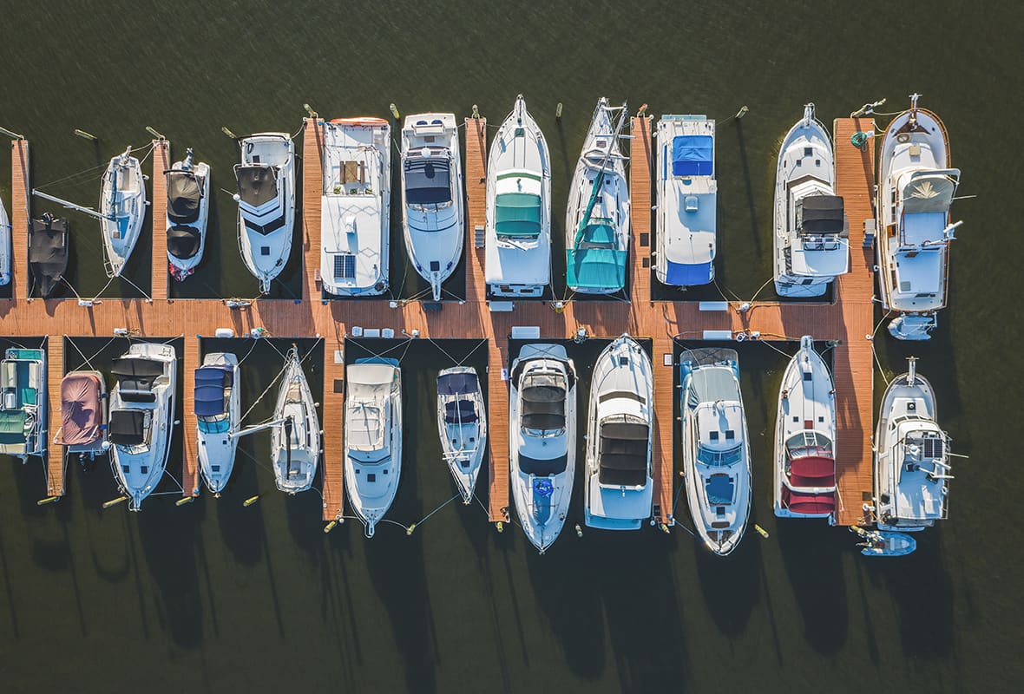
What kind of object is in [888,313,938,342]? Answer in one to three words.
boat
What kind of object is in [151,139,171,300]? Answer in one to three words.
pier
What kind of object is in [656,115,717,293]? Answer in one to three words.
boat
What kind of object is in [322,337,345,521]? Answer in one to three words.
pier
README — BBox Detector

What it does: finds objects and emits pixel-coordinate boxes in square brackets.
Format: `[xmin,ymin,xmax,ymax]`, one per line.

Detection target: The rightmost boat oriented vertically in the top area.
[875,93,976,312]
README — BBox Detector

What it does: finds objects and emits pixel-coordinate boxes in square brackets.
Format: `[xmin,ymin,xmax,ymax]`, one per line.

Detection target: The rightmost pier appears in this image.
[833,118,875,526]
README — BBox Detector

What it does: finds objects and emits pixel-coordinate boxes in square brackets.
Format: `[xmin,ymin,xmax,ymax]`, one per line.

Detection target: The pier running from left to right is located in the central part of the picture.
[0,298,835,340]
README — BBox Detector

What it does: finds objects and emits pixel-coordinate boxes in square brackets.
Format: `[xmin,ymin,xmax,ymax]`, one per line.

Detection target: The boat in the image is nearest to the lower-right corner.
[856,530,918,558]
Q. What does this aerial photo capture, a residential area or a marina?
marina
